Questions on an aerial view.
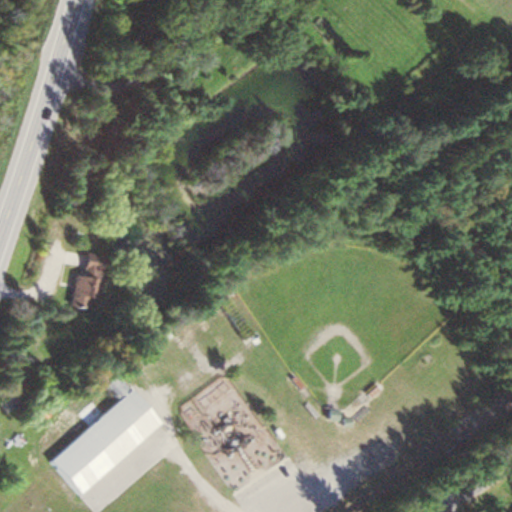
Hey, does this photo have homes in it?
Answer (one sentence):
Yes, you can see a home in this photo.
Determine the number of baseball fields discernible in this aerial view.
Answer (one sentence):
The picture shows 1 baseball field.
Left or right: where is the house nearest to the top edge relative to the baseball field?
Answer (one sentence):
Relative to the baseball field, the house nearest to the top edge lies to the left.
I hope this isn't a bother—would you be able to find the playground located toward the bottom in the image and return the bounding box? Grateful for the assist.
[180,376,288,489]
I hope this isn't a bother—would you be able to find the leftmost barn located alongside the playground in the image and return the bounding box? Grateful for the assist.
[54,391,162,495]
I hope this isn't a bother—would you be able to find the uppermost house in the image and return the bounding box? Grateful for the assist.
[72,252,108,310]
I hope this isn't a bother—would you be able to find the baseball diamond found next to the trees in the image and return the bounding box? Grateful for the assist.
[234,244,446,408]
